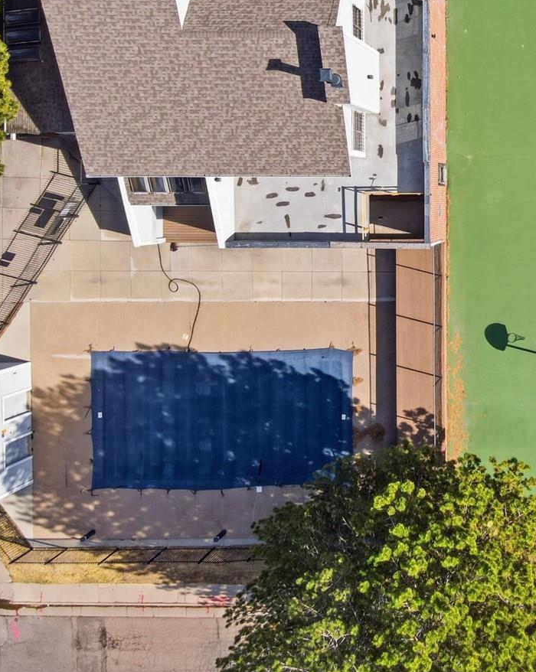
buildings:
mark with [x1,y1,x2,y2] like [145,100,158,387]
[39,0,446,252]
[0,361,35,496]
